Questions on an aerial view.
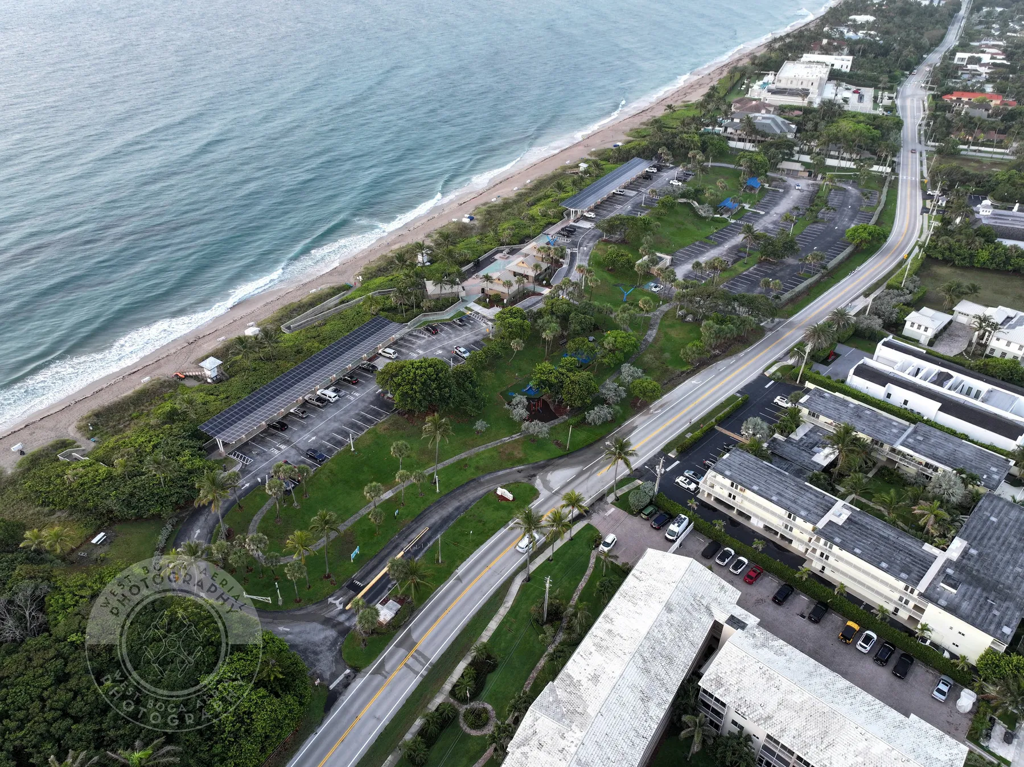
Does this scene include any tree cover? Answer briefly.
Yes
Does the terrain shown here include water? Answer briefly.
Yes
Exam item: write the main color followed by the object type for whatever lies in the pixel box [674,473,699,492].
white car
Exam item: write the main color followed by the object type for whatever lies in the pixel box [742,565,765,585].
red car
